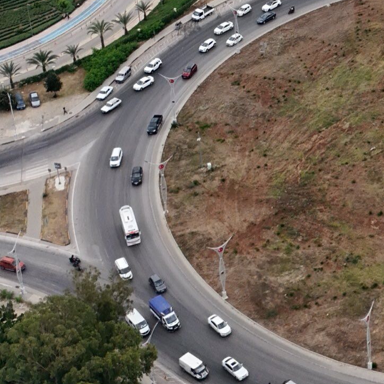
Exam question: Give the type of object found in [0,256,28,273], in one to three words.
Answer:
car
